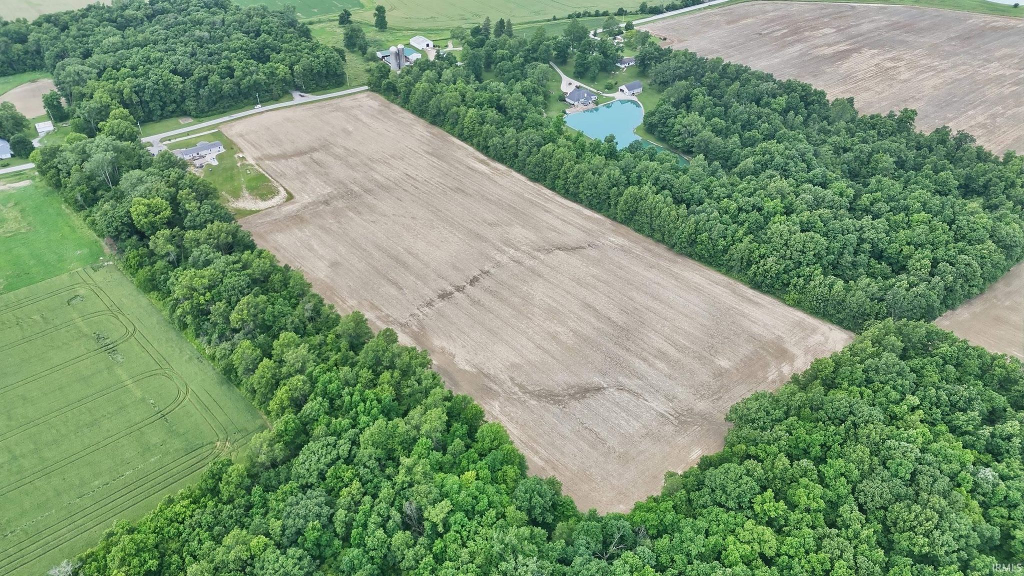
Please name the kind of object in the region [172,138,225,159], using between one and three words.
house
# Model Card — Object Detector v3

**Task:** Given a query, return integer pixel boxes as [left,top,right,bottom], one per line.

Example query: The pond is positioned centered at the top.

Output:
[564,99,676,158]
